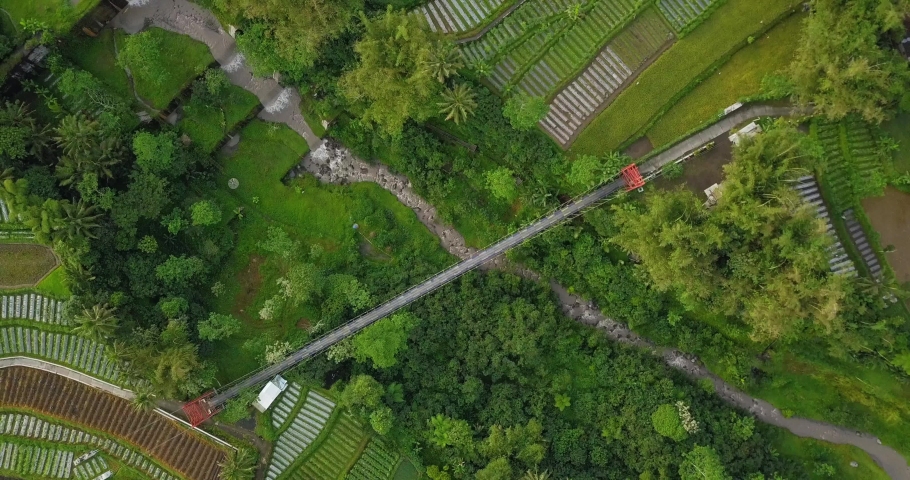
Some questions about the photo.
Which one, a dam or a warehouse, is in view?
dam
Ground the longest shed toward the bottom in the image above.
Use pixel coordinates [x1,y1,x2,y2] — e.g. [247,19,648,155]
[251,374,287,412]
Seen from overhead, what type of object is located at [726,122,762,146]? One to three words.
shed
